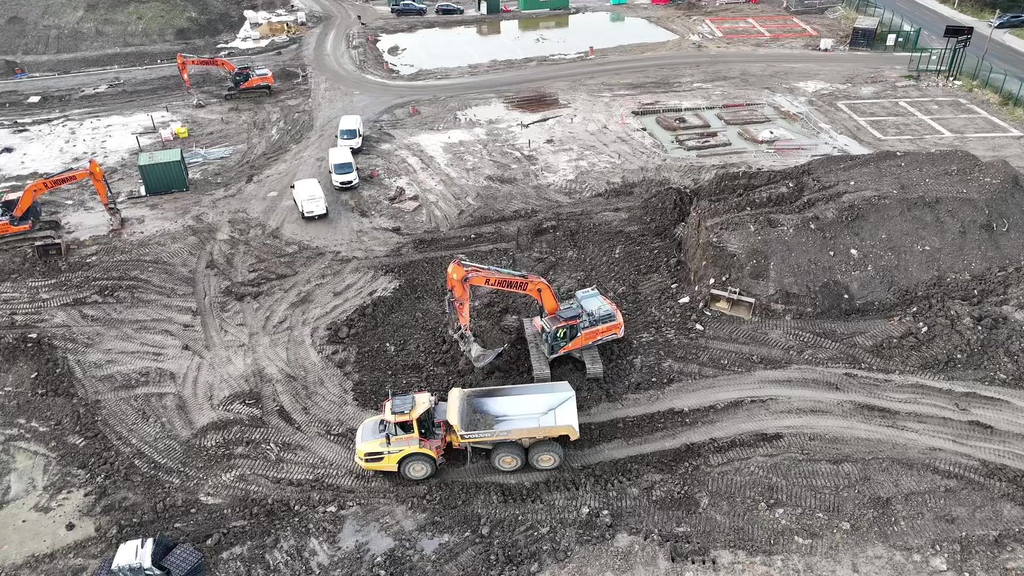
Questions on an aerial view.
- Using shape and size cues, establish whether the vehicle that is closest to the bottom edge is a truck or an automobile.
truck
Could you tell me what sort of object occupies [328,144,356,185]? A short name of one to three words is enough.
van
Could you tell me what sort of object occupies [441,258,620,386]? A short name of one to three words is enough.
work vehicle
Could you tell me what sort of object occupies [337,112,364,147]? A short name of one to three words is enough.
vehicle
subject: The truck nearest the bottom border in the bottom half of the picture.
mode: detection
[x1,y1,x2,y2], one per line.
[356,387,582,483]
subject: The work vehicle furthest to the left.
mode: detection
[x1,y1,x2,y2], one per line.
[0,154,117,247]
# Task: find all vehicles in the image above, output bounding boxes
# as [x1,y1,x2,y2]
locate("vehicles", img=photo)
[328,144,356,185]
[174,49,280,103]
[435,2,464,15]
[392,0,428,15]
[0,154,117,247]
[294,181,330,220]
[989,14,1024,27]
[356,387,582,483]
[441,258,620,386]
[337,112,364,147]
